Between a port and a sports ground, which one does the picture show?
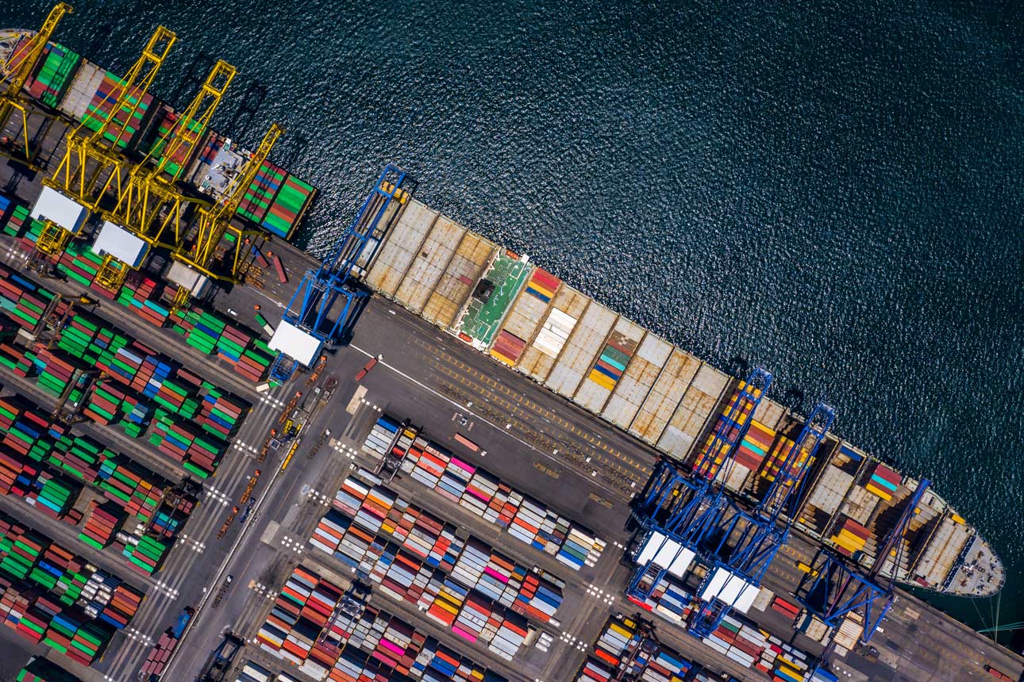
port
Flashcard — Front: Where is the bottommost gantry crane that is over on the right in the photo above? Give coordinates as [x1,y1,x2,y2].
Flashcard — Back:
[608,618,654,682]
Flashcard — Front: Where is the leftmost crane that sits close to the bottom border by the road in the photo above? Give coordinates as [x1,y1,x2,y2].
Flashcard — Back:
[199,617,262,682]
